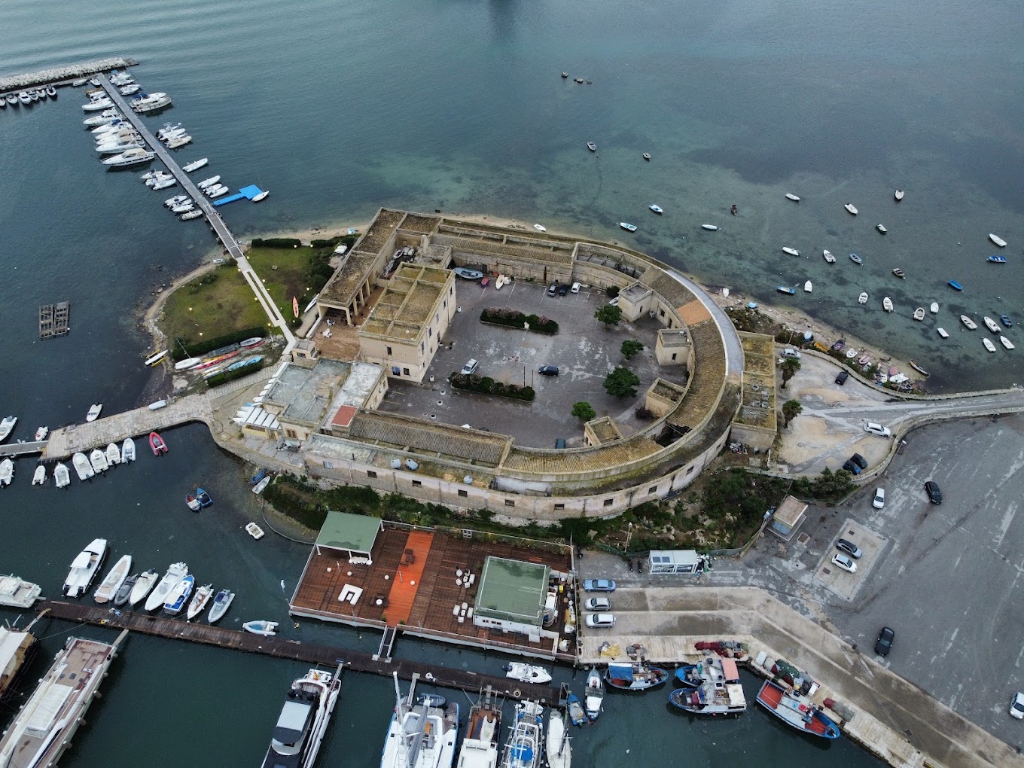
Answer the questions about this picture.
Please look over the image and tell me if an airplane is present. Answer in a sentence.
No, there isn't any airplane down there.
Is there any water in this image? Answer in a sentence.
Yes, the picture does contain water.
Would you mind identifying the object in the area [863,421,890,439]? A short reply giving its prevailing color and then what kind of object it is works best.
white car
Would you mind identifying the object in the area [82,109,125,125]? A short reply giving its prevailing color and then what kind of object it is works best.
white boat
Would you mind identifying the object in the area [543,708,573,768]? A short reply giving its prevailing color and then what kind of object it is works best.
white boat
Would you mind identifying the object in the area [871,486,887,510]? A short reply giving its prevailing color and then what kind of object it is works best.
white car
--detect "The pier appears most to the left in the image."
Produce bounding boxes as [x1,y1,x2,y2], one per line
[0,439,47,459]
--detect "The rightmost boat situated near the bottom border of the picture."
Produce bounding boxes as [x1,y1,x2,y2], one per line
[757,682,840,734]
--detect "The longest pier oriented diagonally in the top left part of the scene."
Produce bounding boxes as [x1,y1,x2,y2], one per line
[99,77,217,215]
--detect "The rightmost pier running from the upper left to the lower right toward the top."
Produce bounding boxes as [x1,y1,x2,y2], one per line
[205,212,242,257]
